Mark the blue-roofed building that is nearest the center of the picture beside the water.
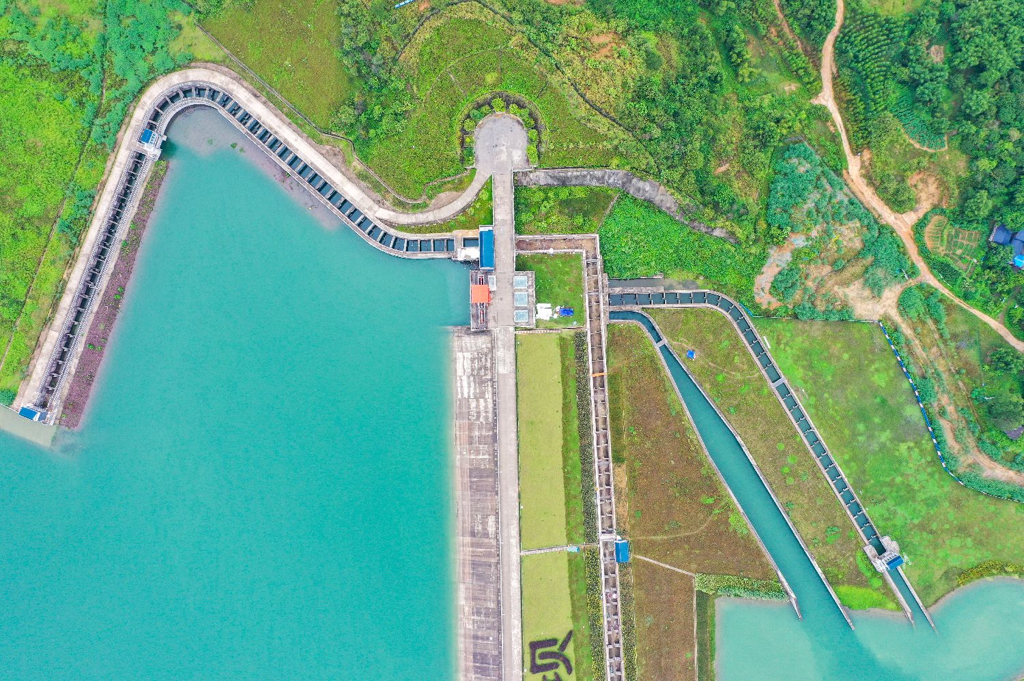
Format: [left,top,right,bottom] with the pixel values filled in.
[479,225,494,272]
